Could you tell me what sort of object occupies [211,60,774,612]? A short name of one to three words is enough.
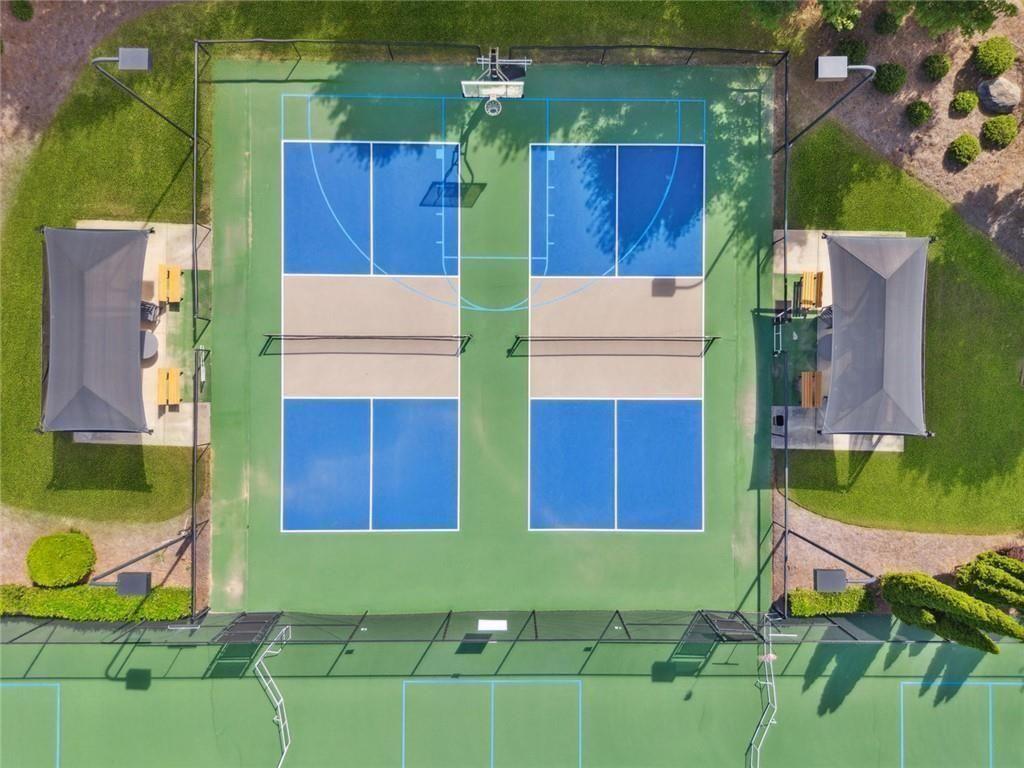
basketball court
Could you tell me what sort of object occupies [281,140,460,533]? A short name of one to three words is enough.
sports court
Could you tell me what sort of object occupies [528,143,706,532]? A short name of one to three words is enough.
sports court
